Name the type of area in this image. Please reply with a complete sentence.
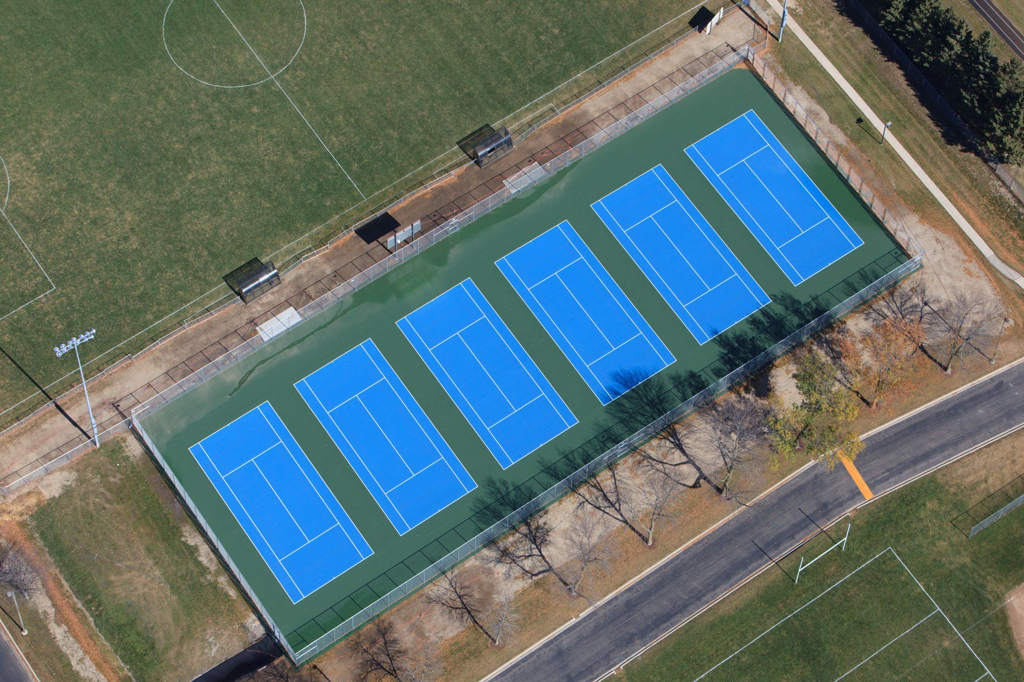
The area seen from above is a sports ground.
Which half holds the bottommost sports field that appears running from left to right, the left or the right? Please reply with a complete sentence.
The bottommost sports field that appears running from left to right sits on the right side.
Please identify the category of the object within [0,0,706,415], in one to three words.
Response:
soccer field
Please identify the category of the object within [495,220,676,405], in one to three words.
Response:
tennis court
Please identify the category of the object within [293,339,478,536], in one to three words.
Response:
tennis court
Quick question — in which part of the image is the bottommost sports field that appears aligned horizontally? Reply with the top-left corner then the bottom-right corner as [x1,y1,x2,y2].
[694,547,997,682]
